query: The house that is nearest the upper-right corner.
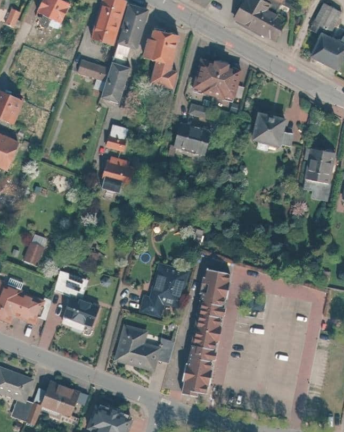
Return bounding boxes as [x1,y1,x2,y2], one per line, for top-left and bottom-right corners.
[311,3,342,33]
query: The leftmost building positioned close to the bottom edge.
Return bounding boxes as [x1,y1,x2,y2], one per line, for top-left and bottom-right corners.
[0,366,42,425]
